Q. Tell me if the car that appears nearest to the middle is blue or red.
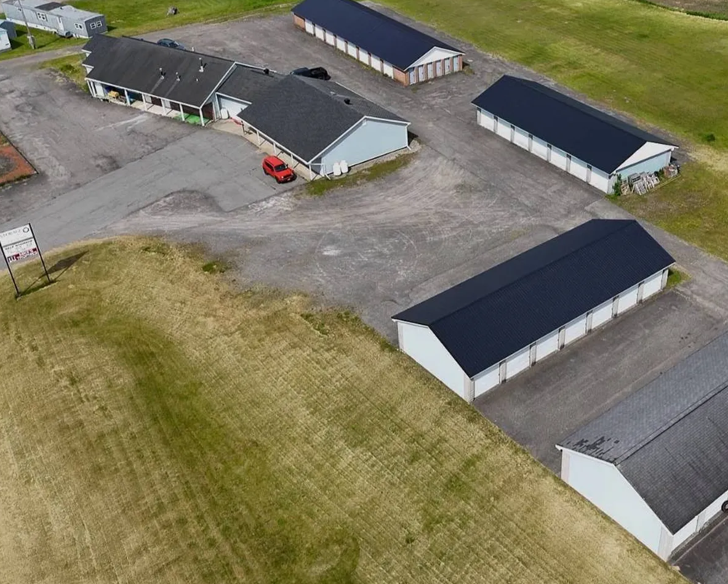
red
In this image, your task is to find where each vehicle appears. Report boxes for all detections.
[260,154,297,184]
[156,37,188,51]
[288,65,335,81]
